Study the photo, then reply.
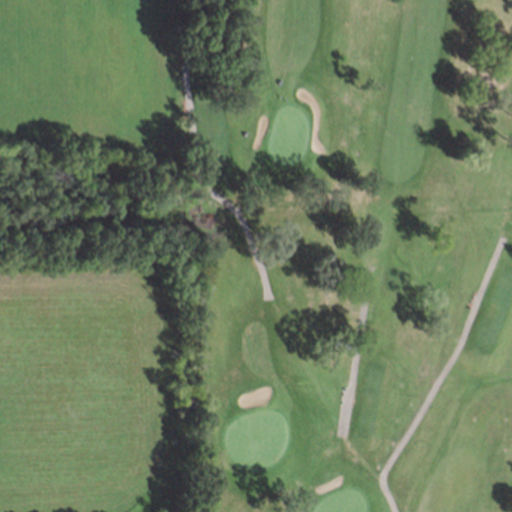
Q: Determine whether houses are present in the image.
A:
No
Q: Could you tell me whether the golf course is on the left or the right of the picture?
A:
right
